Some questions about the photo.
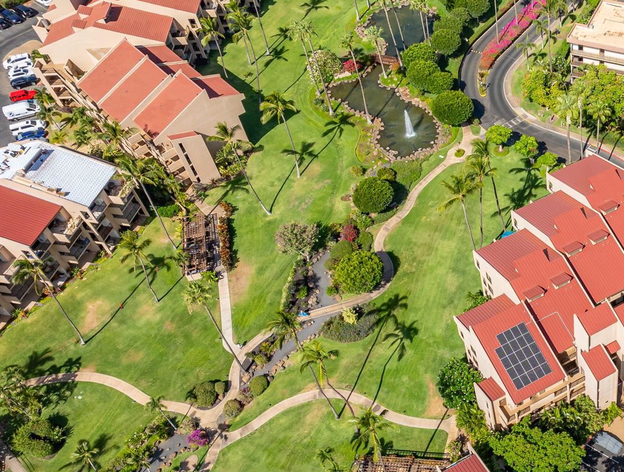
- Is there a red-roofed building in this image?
Yes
